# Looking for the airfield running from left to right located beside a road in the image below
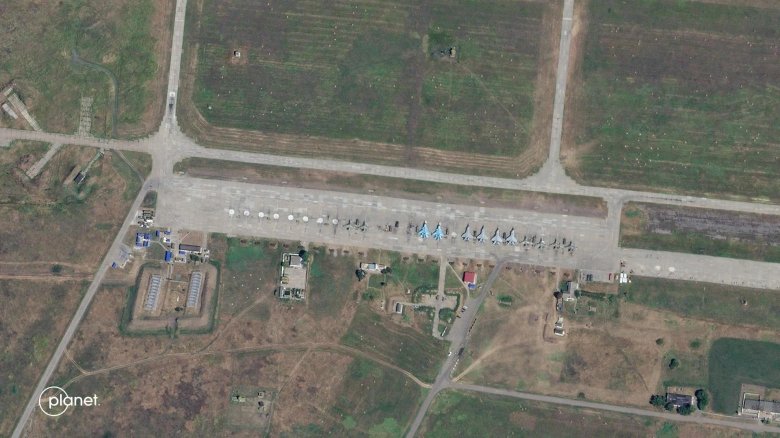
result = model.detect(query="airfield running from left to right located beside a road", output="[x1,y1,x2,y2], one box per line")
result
[0,0,780,289]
